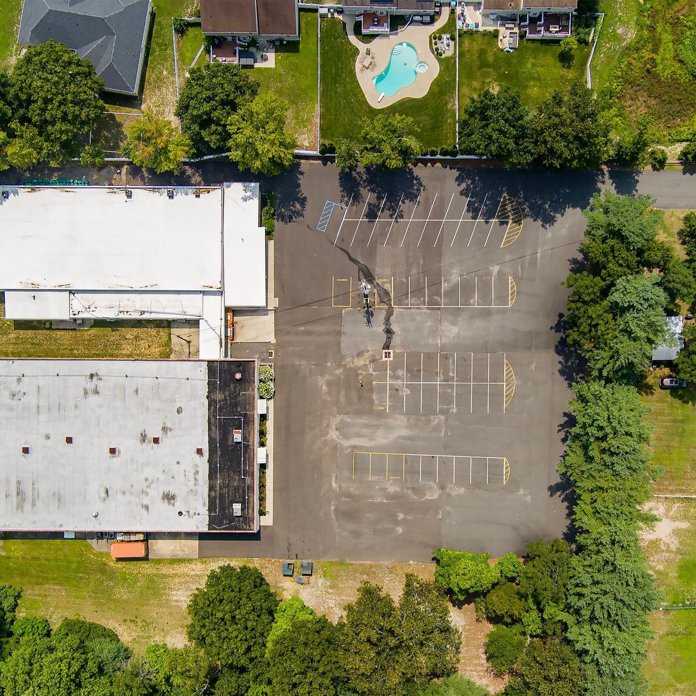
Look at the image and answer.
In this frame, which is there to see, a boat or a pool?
pool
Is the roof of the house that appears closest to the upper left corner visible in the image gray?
Yes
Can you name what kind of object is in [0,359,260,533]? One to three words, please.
building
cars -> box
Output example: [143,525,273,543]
[660,377,688,389]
